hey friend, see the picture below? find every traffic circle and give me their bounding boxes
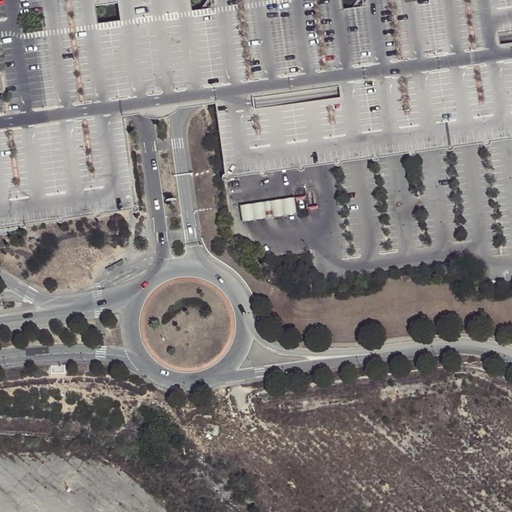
[95,237,258,392]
